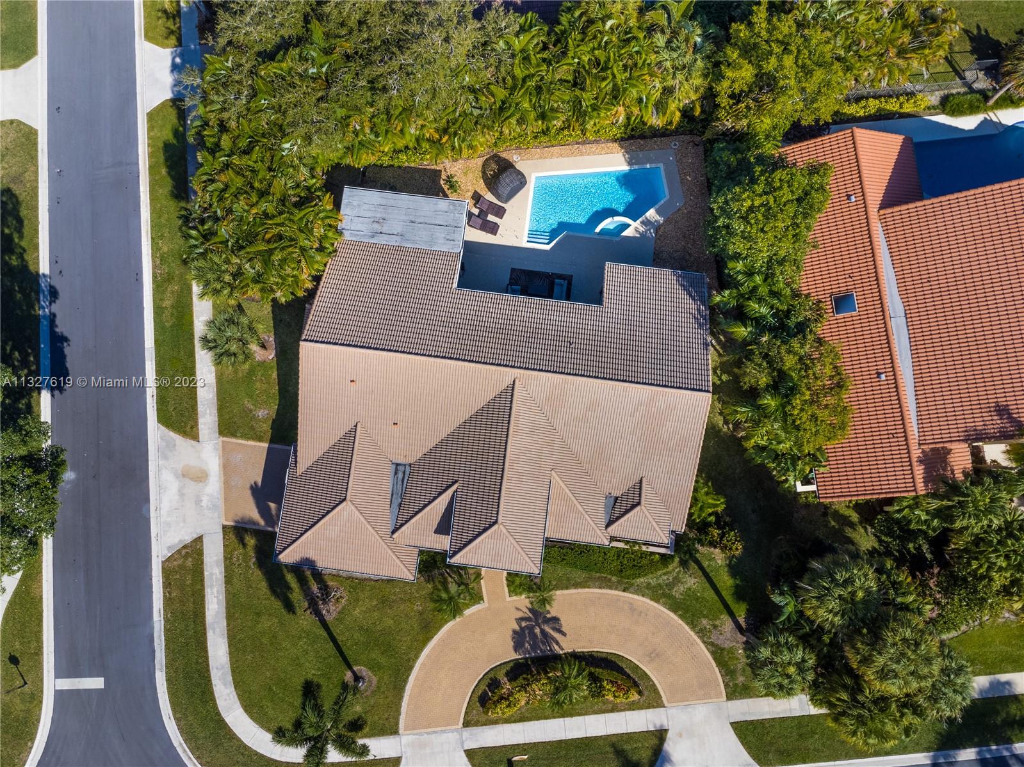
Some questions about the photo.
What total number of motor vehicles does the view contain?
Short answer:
zero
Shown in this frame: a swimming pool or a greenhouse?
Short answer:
swimming pool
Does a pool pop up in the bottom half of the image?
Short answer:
No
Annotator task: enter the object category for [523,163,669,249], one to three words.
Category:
swimming pool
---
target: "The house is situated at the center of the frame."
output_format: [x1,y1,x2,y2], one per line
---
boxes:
[272,185,712,583]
